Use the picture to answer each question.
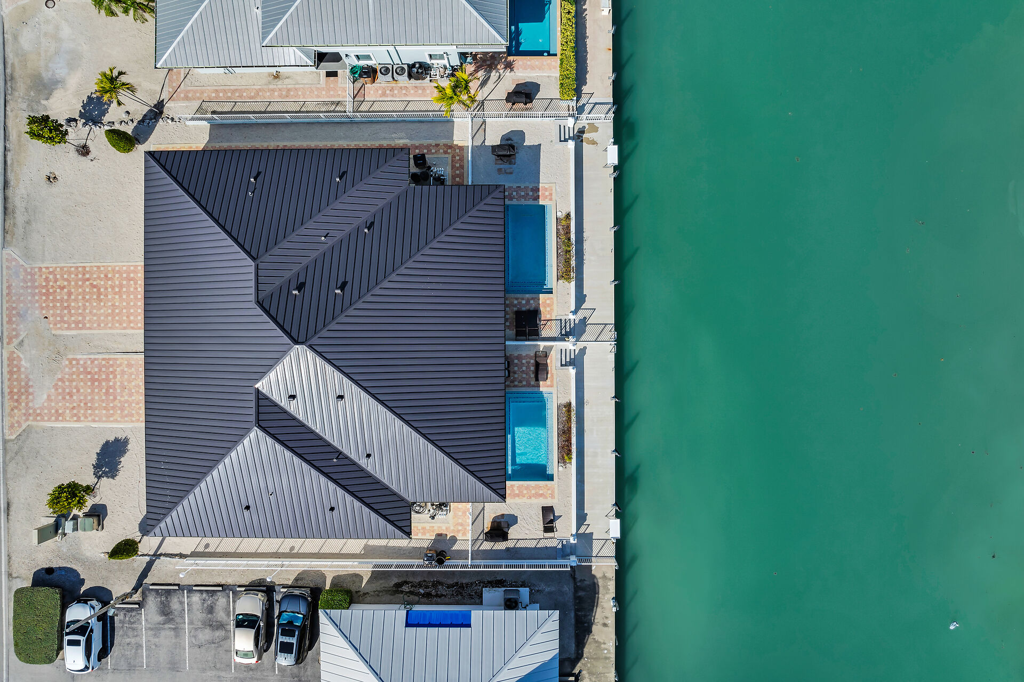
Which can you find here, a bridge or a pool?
pool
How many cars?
3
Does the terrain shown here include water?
Yes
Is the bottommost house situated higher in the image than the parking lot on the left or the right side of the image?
left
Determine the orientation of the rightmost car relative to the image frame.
from top to bottom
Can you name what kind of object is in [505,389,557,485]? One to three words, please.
swimming pool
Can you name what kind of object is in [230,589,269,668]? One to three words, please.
car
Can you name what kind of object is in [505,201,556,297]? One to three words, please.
swimming pool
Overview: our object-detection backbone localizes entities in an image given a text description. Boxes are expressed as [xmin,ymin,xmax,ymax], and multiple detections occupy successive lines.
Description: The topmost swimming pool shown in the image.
[505,0,560,58]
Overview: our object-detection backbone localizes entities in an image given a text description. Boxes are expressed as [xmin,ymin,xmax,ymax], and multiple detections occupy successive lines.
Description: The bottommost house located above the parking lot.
[144,146,507,540]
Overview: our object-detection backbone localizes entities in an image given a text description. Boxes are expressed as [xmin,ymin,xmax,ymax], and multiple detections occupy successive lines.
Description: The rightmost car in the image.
[273,587,313,670]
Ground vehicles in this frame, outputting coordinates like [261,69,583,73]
[230,589,269,668]
[64,596,108,674]
[273,587,313,670]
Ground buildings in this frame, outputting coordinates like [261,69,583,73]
[318,601,561,682]
[154,0,509,74]
[144,146,507,540]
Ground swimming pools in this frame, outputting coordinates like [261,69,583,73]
[505,201,556,297]
[505,0,560,58]
[505,389,557,485]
